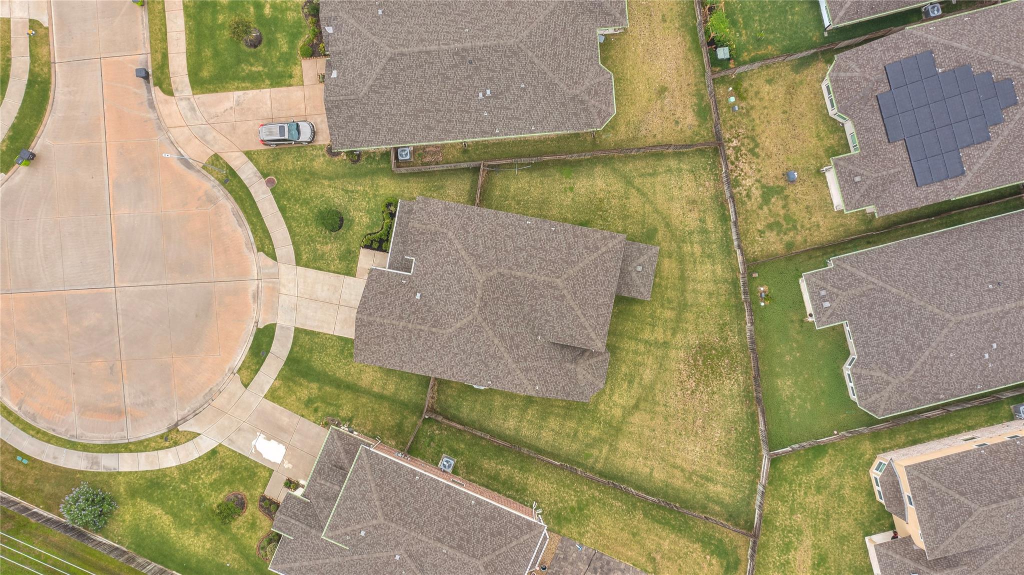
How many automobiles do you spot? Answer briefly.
one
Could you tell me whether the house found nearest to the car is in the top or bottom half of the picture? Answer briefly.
top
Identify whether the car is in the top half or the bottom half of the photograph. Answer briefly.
top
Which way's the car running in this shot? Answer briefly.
from left to right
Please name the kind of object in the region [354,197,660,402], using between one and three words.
house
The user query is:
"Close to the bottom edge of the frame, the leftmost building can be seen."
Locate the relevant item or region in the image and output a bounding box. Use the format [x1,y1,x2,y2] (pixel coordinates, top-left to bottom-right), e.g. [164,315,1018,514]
[268,424,550,575]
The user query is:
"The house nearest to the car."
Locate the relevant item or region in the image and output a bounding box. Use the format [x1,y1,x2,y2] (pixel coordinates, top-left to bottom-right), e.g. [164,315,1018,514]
[319,0,630,153]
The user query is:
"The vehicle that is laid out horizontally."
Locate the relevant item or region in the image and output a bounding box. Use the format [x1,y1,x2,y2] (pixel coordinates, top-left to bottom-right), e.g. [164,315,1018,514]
[256,117,318,147]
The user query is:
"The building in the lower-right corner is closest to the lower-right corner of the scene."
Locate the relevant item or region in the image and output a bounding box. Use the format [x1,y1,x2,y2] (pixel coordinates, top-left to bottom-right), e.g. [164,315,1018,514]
[865,418,1024,575]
